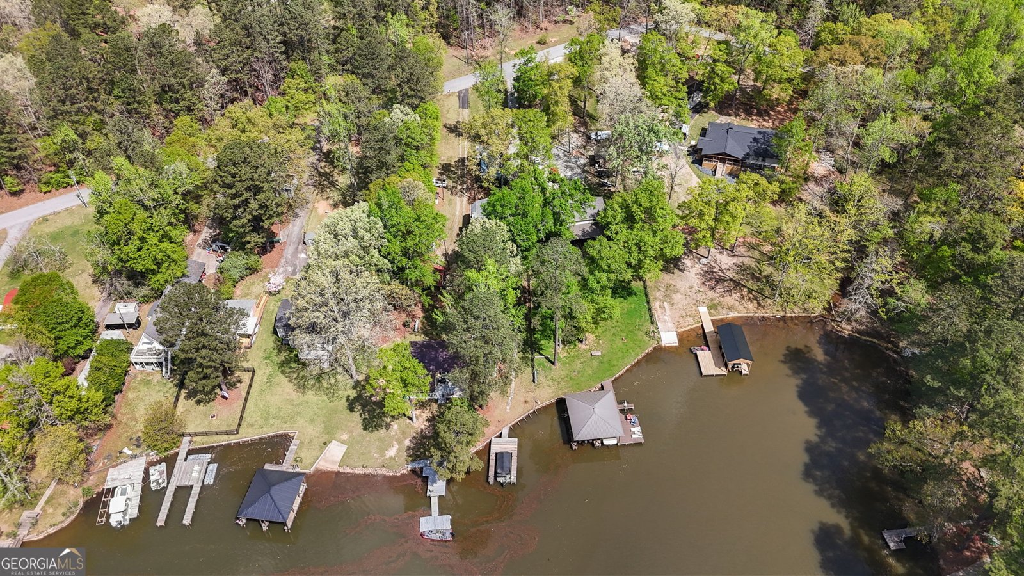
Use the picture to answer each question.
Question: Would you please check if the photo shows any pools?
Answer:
No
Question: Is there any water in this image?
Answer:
Yes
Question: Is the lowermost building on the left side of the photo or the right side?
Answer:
left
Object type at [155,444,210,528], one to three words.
pier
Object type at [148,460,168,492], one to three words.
boat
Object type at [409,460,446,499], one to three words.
pier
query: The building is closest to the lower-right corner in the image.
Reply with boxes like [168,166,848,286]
[712,322,754,376]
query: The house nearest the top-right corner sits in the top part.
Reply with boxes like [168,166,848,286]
[700,119,778,183]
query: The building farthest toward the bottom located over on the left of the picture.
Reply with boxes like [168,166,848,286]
[237,469,310,540]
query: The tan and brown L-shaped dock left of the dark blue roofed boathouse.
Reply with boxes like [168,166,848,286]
[695,321,728,378]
